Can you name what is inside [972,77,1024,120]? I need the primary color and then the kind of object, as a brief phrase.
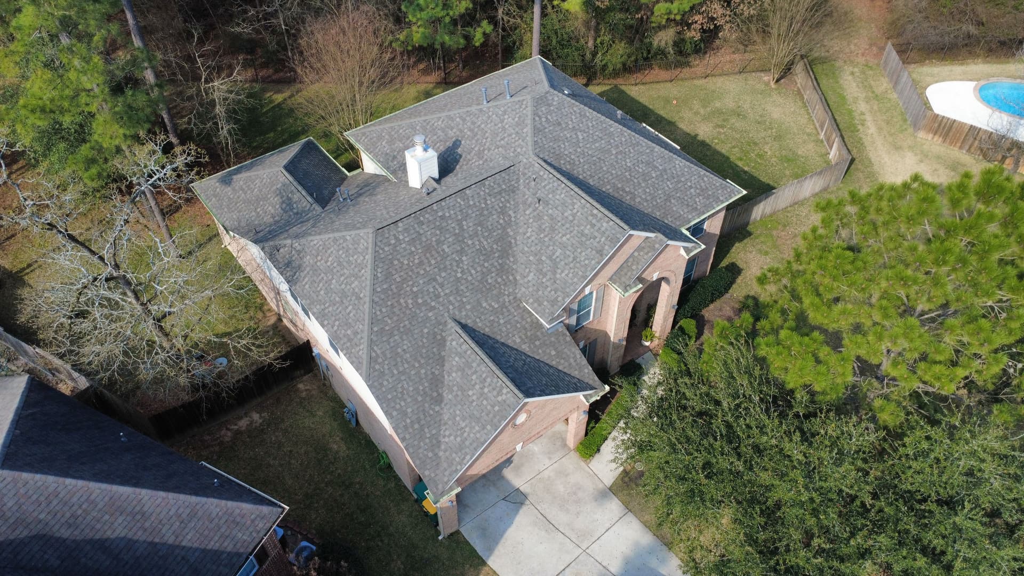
blue swimming pool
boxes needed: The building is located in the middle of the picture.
[191,56,749,544]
